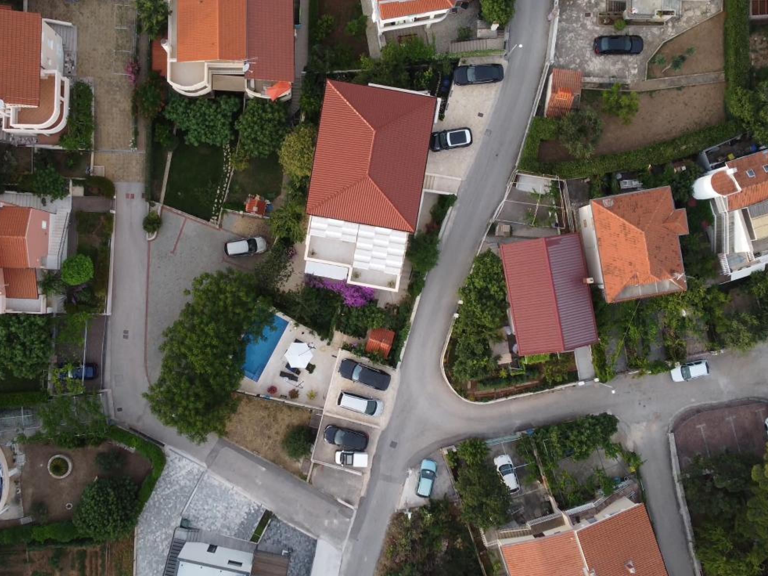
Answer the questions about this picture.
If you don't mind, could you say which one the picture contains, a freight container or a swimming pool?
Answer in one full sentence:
Looking from above, you can make out a swimming pool.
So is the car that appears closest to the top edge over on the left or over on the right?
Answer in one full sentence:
You can find the car that appears closest to the top edge on the right side of the picture.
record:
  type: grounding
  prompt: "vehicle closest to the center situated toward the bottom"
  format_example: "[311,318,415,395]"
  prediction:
[336,356,393,391]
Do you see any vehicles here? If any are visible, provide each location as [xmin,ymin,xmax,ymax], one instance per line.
[335,450,368,469]
[336,356,393,391]
[335,389,385,418]
[590,31,644,57]
[428,126,477,154]
[666,357,711,383]
[495,450,520,496]
[222,233,271,258]
[450,62,504,88]
[415,457,438,499]
[322,423,371,450]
